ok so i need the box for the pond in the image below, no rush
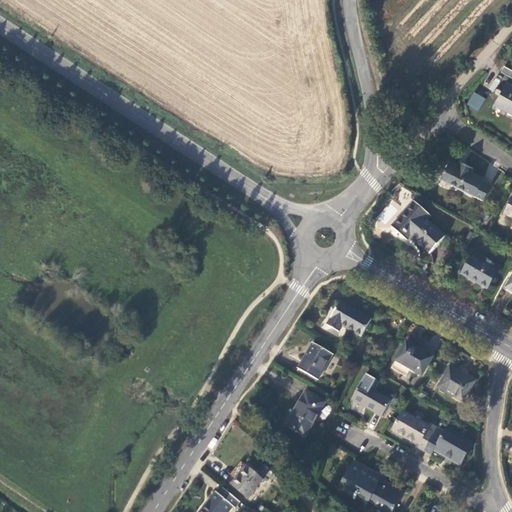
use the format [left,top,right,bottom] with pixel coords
[18,279,109,343]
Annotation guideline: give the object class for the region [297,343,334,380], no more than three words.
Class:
house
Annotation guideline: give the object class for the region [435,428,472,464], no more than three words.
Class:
house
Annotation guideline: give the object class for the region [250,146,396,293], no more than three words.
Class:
roundabout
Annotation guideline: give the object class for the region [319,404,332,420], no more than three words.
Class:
vehicle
